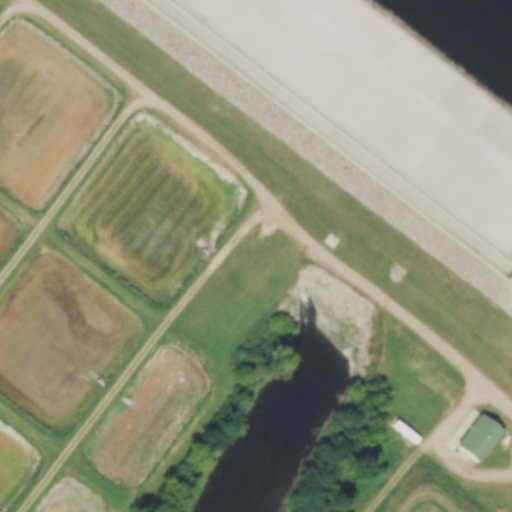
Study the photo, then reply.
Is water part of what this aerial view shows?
Yes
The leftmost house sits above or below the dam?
below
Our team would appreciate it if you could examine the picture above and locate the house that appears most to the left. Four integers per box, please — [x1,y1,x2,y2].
[393,420,424,446]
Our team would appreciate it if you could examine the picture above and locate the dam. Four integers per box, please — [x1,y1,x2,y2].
[39,0,512,360]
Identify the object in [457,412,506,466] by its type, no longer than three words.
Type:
building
